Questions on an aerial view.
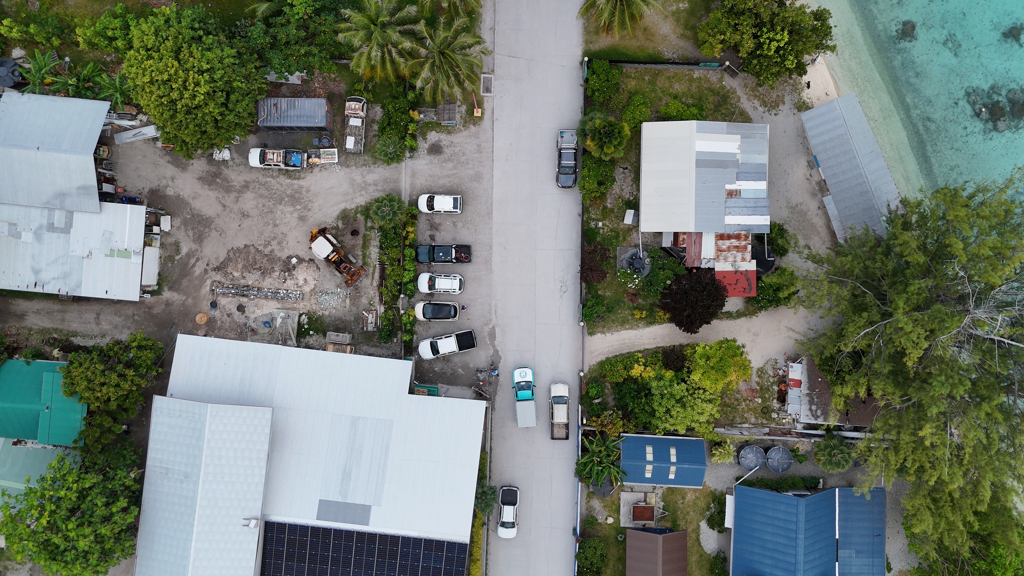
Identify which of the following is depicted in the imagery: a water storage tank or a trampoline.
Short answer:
water storage tank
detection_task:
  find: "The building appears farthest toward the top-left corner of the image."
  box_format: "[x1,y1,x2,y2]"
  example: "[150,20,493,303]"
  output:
[0,93,110,214]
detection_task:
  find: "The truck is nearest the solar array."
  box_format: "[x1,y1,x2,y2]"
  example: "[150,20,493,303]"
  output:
[495,480,520,539]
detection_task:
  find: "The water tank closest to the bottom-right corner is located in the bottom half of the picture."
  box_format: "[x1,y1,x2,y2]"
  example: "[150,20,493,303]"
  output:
[759,442,792,472]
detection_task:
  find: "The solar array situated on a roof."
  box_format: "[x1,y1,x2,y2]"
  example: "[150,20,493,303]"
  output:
[261,525,468,576]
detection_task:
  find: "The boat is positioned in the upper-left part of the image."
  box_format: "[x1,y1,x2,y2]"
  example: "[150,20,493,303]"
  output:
[94,145,113,159]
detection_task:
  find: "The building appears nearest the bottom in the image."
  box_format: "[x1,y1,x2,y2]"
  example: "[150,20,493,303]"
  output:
[626,529,687,576]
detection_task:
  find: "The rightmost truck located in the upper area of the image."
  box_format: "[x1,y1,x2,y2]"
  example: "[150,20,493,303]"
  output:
[554,130,578,193]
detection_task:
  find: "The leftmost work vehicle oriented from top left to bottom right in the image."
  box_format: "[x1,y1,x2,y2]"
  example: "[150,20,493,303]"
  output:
[306,231,374,294]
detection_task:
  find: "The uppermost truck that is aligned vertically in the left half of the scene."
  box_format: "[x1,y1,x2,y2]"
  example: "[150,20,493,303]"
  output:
[341,96,367,154]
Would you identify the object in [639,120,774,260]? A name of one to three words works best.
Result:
house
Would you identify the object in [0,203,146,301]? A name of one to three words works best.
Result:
shed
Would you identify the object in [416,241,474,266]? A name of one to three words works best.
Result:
truck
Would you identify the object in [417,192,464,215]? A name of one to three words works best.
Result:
car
